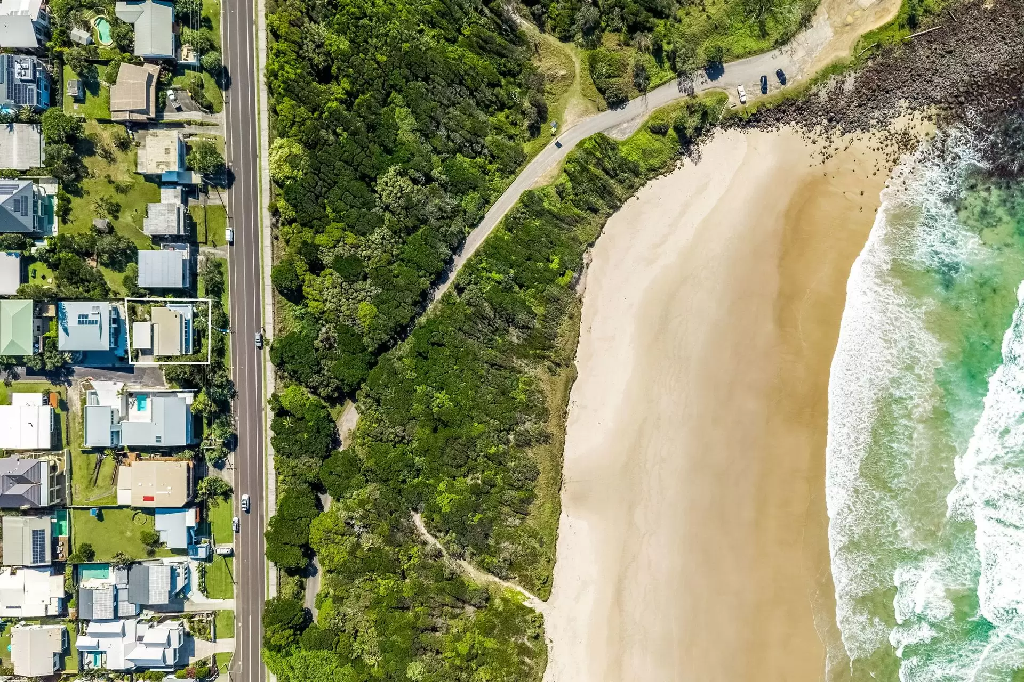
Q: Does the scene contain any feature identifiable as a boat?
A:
No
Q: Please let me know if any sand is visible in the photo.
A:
Yes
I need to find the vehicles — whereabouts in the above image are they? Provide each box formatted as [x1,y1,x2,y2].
[255,332,262,347]
[241,495,249,510]
[760,75,768,93]
[232,517,239,532]
[168,91,180,108]
[776,68,785,84]
[226,227,233,242]
[214,547,233,554]
[737,85,746,102]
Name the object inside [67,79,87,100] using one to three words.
shed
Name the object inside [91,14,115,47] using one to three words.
swimming pool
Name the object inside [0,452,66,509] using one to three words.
house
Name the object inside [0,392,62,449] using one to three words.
house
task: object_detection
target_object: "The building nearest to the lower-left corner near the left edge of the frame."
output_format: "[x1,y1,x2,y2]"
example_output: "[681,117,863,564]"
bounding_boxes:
[11,623,72,677]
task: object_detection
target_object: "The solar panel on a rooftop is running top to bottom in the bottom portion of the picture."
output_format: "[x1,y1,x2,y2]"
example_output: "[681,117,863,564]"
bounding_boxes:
[32,530,45,564]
